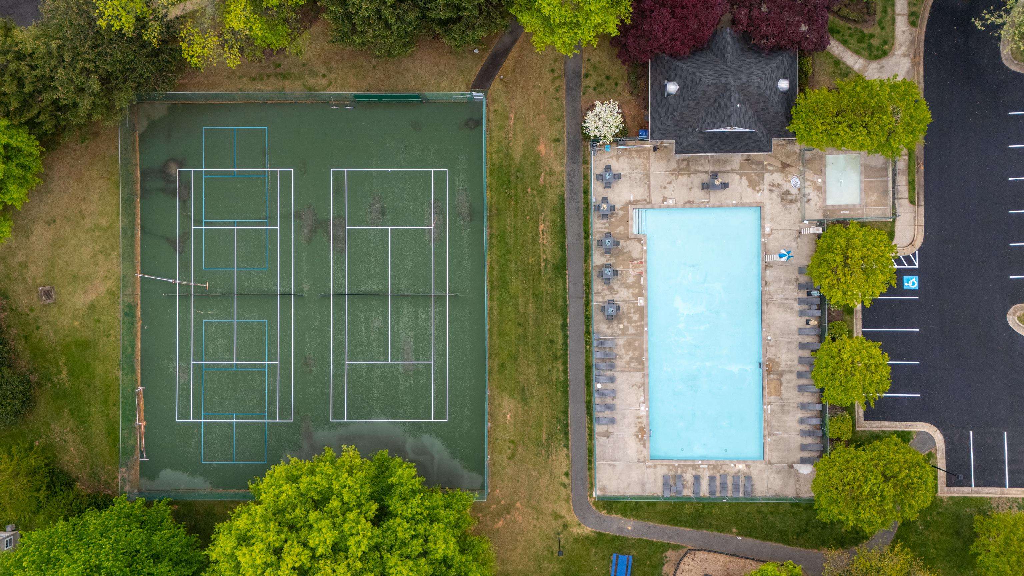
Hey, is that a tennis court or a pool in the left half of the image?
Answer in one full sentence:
Looking in the left half of the image, you will find a tennis court.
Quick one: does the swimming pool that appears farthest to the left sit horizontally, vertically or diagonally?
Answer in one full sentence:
The swimming pool that appears farthest to the left has been laid out vertically relative to the frame.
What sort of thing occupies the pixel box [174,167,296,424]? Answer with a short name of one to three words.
tennis court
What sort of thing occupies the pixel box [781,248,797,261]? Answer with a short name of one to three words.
umbrella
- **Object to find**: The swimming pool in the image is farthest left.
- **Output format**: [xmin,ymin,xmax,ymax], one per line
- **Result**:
[630,195,782,469]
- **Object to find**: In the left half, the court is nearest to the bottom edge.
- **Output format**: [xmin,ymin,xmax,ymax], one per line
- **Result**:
[202,321,267,463]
